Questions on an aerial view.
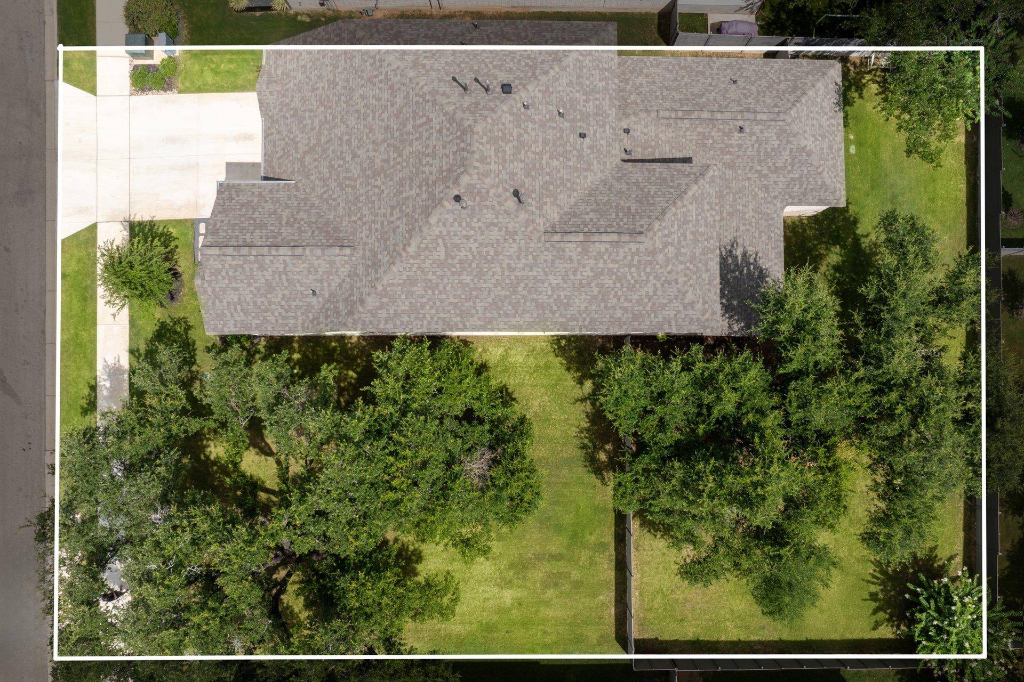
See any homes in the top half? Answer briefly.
Yes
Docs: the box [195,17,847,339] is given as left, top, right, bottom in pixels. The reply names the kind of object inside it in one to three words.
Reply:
house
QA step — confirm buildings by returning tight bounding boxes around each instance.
[195,17,847,339]
[285,0,763,12]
